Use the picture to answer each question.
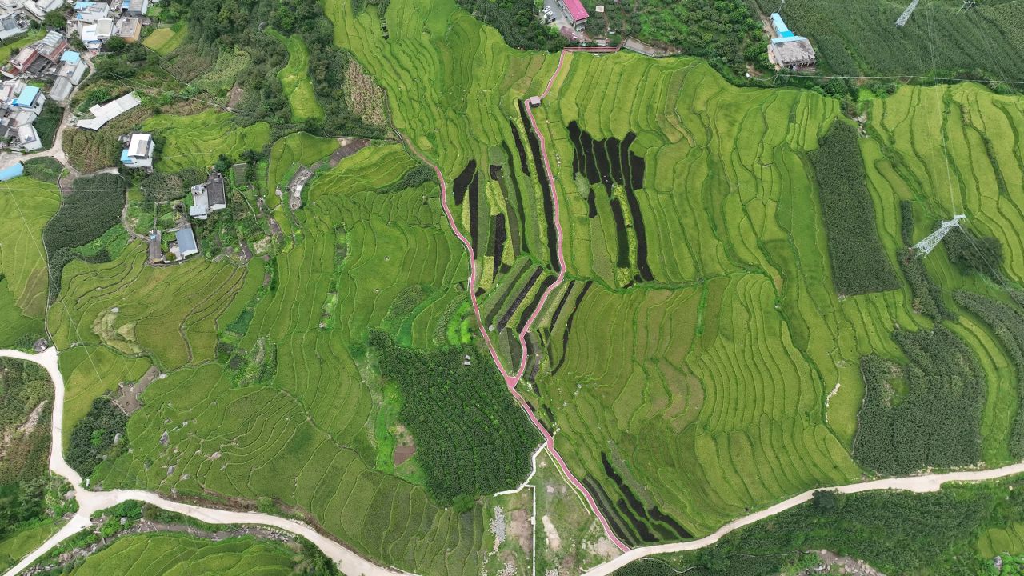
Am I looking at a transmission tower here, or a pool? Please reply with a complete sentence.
There is a transmission tower in the scene.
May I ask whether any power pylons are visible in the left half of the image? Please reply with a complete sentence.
No, I see no power pylon in the left half of the image.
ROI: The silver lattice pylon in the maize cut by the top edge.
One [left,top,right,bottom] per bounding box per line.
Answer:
[894,0,920,29]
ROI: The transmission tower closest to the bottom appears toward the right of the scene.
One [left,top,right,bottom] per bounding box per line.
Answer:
[911,217,969,262]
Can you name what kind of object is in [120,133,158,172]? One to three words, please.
house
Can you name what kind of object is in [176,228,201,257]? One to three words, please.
barn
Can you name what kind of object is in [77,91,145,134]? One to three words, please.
shed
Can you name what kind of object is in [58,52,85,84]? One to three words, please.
house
